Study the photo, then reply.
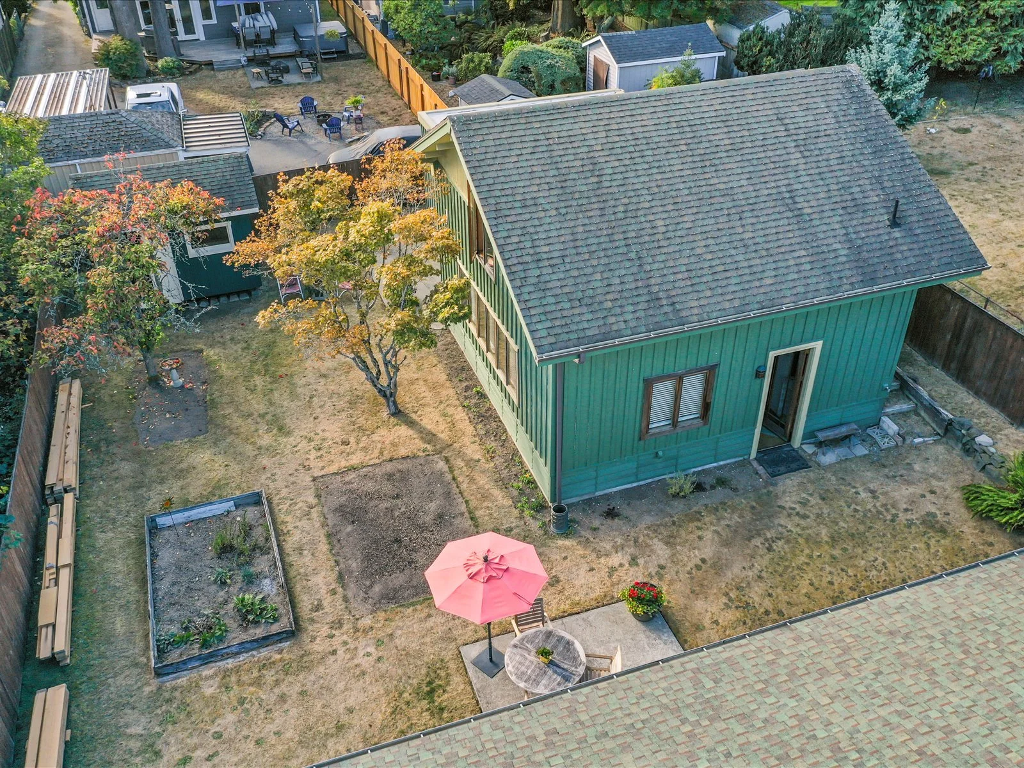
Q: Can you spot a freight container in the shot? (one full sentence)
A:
No, I can't see a single freight container in this photo.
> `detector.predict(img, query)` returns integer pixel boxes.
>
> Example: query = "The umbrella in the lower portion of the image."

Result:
[421,533,554,676]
